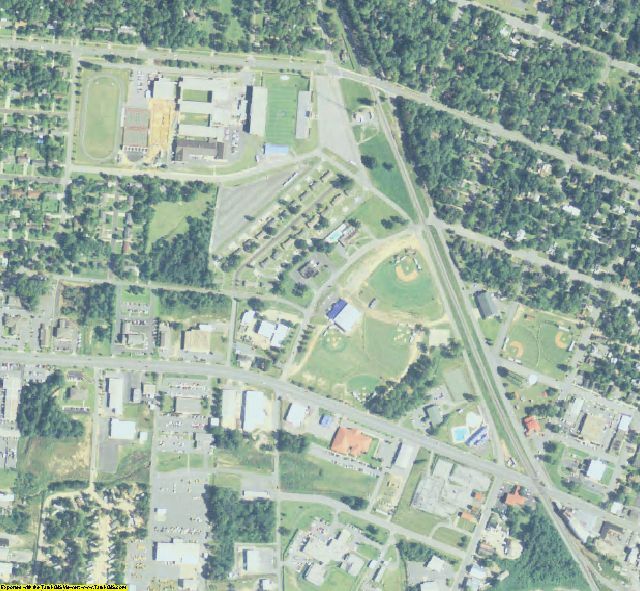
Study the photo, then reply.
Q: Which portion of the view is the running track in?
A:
top left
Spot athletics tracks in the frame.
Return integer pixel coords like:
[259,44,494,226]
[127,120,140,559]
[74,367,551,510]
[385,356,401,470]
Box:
[79,74,126,162]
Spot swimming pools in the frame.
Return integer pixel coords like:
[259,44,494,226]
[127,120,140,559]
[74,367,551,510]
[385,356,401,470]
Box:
[451,426,470,443]
[325,224,347,244]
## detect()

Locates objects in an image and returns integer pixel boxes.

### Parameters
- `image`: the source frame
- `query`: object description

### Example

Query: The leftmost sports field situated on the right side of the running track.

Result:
[264,74,311,143]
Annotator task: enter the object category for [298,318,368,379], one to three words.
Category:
baseball field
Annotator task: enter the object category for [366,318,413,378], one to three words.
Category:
baseball field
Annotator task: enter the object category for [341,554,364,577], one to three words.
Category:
building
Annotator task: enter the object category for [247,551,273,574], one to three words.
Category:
building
